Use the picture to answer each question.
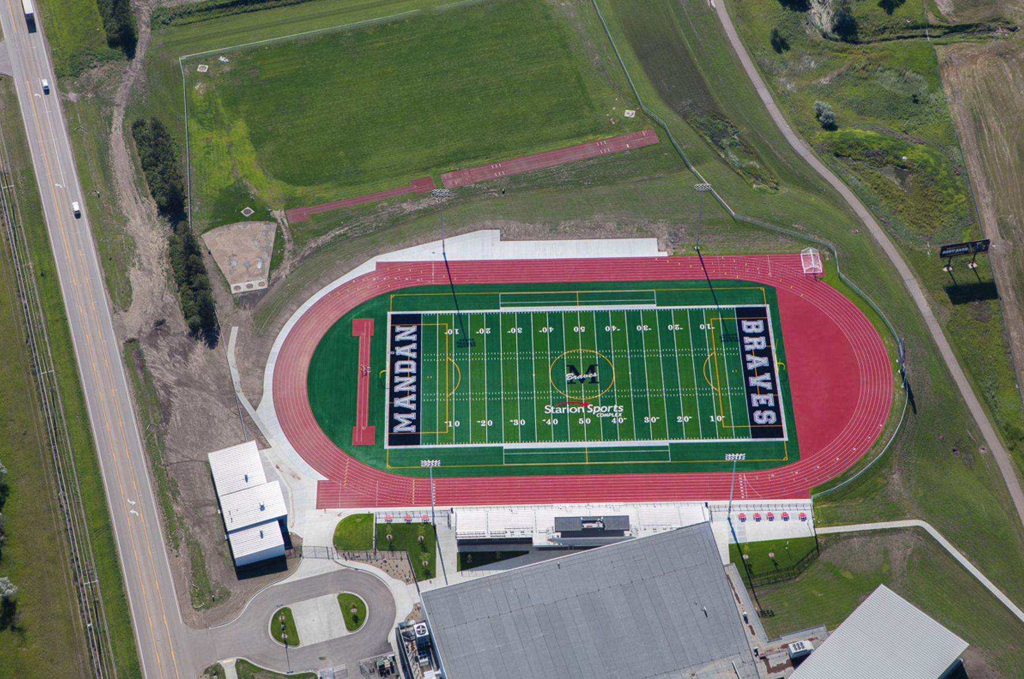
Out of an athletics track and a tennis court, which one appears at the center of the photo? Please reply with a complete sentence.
Looking at the center of the photo, you will find an athletics track.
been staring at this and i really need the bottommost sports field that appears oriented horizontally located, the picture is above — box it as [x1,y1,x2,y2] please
[307,278,799,478]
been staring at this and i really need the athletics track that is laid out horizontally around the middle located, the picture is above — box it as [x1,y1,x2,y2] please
[272,253,893,509]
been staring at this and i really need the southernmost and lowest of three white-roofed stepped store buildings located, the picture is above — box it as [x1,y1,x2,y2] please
[230,521,285,565]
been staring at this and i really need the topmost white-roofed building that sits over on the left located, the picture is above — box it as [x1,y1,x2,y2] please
[208,441,267,503]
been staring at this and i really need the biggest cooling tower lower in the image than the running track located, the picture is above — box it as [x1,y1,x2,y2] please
[413,623,429,648]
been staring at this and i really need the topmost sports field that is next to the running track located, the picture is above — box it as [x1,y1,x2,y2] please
[184,0,661,226]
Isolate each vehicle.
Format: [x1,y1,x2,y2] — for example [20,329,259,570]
[22,0,35,21]
[41,80,49,91]
[71,202,80,216]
